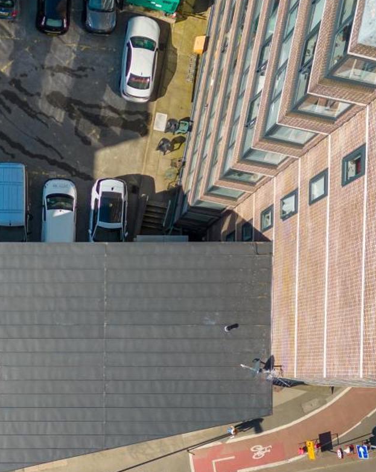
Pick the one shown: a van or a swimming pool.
van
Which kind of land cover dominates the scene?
buildings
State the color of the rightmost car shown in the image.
white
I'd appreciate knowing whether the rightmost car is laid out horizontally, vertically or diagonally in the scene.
vertically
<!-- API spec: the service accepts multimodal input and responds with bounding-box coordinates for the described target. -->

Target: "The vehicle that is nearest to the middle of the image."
[88,177,132,241]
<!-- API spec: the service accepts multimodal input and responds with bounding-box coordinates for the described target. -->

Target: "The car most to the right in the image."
[119,16,163,107]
